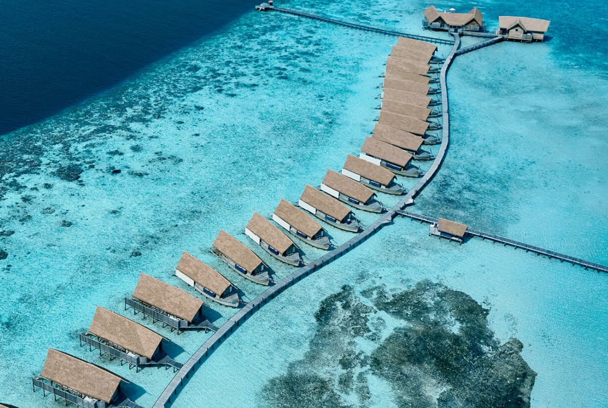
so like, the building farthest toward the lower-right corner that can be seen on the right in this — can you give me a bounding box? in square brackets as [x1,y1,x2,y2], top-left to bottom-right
[424,219,469,249]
